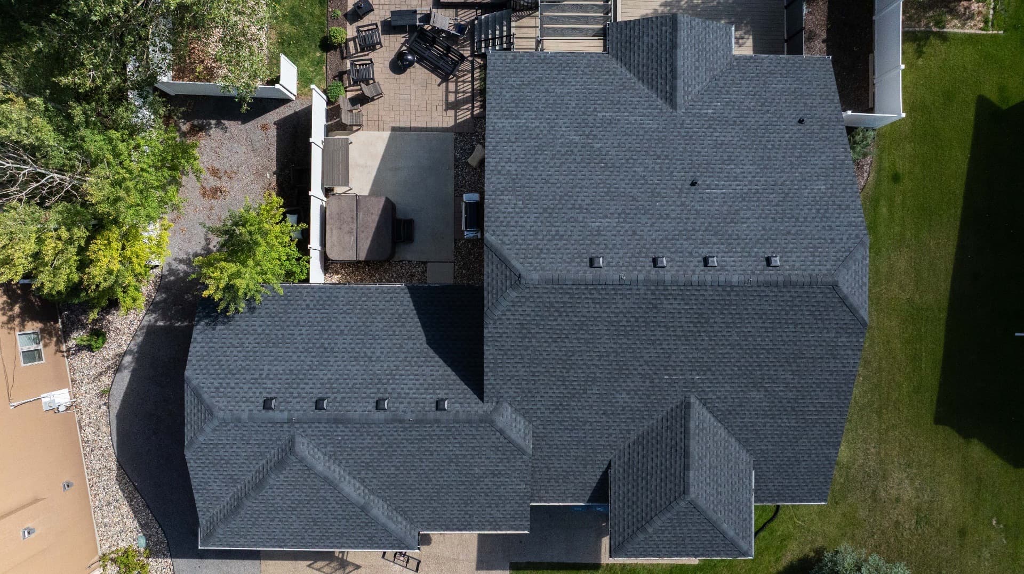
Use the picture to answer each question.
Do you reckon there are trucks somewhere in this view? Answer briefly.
No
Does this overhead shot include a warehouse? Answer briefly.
No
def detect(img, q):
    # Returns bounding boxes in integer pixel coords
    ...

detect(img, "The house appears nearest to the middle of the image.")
[180,13,872,562]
